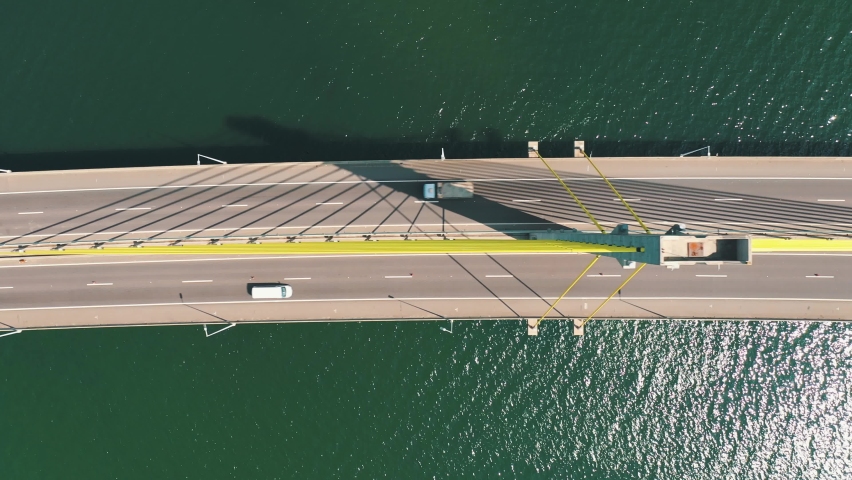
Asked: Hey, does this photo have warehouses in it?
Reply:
No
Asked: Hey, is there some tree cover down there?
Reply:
No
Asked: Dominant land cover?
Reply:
water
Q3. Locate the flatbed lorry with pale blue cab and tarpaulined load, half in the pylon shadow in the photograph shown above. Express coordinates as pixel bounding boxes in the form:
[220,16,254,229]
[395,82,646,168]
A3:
[423,182,473,200]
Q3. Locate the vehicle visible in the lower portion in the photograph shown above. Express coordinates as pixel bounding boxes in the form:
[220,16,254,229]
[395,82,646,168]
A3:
[251,283,292,299]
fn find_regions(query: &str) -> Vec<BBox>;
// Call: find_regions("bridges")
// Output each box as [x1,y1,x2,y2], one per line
[0,141,852,335]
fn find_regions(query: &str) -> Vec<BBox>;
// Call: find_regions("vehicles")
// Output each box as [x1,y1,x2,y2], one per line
[423,182,473,200]
[251,283,292,299]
